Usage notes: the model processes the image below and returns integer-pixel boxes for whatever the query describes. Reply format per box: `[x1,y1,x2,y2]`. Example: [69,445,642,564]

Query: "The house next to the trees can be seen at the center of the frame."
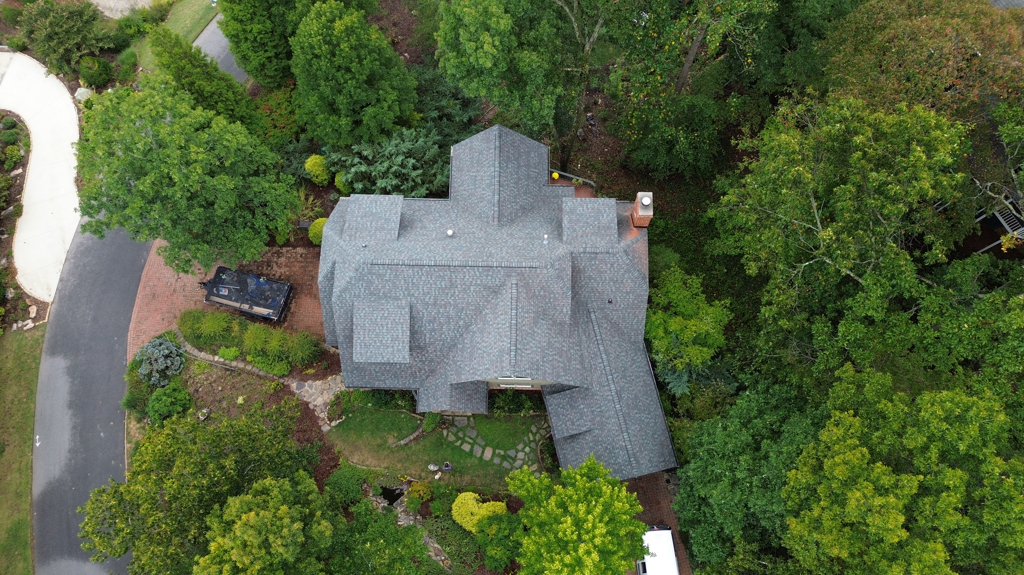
[318,125,681,489]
